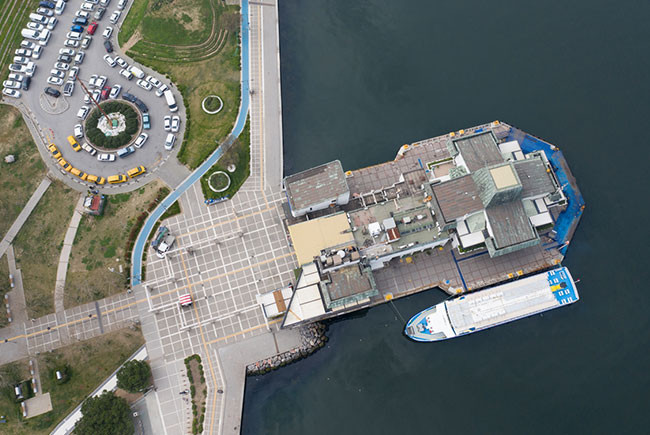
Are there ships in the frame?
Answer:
Yes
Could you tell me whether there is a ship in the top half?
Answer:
No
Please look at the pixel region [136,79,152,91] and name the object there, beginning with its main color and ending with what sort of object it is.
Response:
white vehicle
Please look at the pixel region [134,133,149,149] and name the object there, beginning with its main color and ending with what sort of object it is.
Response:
white car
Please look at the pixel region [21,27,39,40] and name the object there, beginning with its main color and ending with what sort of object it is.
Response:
white vehicle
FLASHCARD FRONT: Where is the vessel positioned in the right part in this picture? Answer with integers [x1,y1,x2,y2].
[404,264,582,343]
